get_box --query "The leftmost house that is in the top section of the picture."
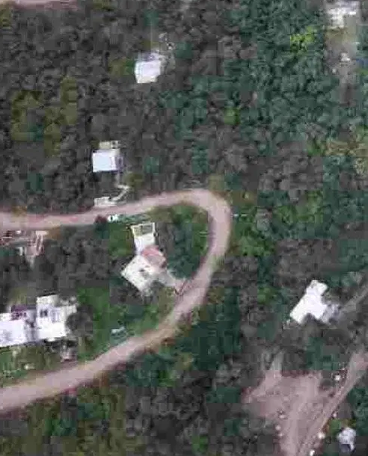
[93,141,125,172]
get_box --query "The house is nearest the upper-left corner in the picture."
[134,51,175,82]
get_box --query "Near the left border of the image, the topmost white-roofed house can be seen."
[0,294,82,347]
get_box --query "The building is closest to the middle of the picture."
[121,222,167,293]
